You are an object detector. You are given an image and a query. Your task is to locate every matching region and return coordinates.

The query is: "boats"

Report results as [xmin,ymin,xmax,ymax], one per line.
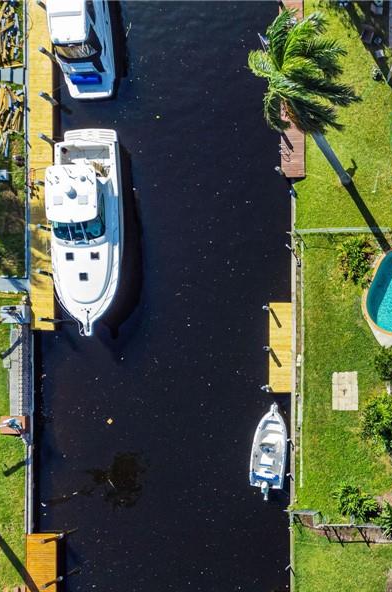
[38,0,119,104]
[251,402,289,501]
[46,128,123,335]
